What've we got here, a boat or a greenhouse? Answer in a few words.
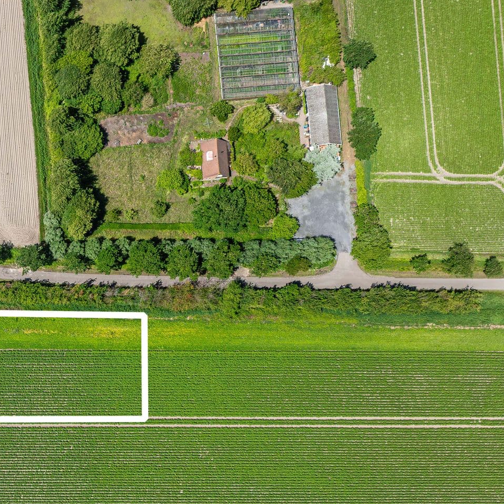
greenhouse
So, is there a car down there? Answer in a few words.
No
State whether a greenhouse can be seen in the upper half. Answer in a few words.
Yes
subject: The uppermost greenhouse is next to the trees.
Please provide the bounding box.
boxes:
[212,6,302,102]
